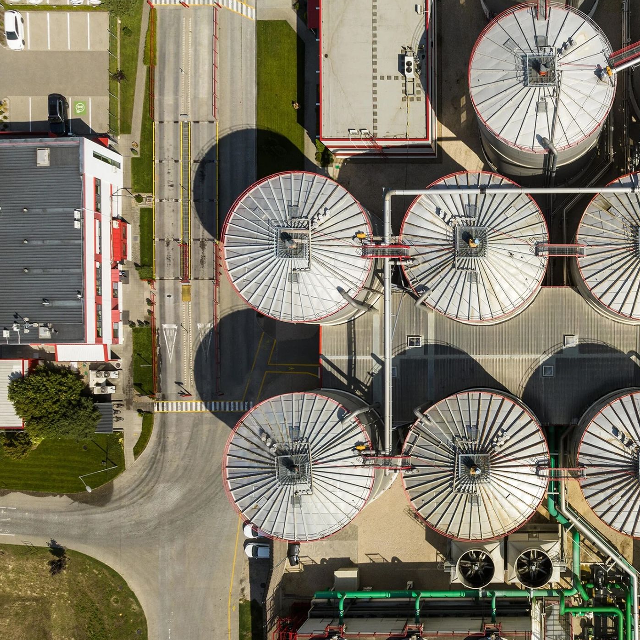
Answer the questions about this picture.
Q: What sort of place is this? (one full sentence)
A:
This looks like an industrial area.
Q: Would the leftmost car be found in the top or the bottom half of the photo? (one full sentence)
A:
You can find the leftmost car in the top half.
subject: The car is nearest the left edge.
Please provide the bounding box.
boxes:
[0,8,23,47]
